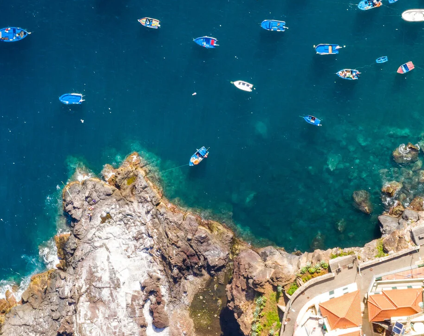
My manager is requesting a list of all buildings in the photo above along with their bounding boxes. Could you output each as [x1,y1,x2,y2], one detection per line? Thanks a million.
[319,285,363,331]
[367,287,424,324]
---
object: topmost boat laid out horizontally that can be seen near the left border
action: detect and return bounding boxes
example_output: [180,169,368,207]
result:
[0,27,31,42]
